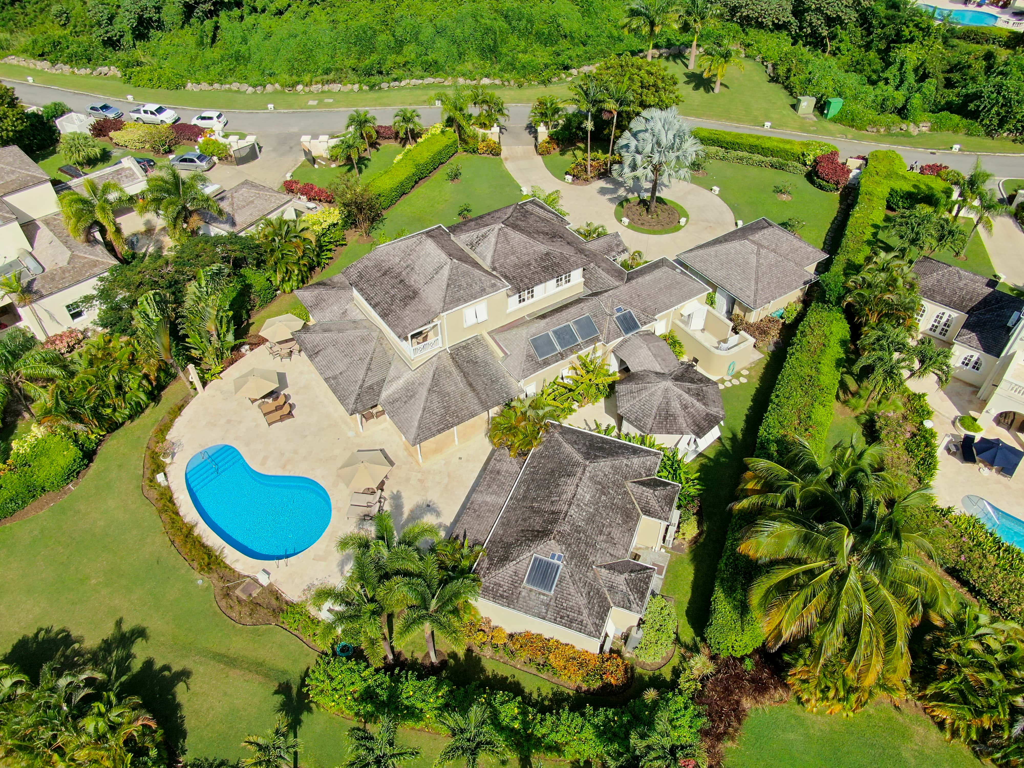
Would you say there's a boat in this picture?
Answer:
No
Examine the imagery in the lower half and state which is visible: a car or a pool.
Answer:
pool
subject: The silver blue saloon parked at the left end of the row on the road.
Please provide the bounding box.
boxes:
[80,100,125,119]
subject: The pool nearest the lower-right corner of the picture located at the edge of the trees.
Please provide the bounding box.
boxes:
[957,491,1024,557]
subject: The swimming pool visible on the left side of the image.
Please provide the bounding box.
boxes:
[181,441,336,564]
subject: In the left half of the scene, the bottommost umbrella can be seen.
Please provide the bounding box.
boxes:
[338,448,391,490]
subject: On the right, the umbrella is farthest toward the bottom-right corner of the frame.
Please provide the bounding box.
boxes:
[969,432,1024,472]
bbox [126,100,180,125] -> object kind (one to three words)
truck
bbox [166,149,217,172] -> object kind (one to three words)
car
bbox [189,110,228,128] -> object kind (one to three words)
car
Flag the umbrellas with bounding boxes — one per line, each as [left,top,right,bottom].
[969,432,1024,472]
[259,313,306,350]
[236,372,284,410]
[338,448,391,490]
